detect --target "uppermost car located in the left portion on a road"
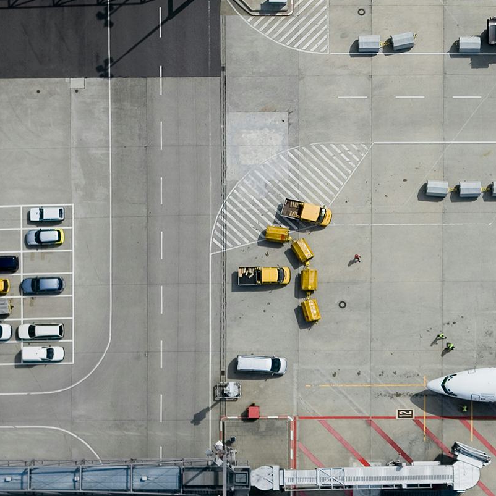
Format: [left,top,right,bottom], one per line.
[31,205,66,223]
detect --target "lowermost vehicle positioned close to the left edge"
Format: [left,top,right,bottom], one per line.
[22,344,65,365]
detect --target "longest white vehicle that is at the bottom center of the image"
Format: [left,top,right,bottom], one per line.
[238,355,287,377]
